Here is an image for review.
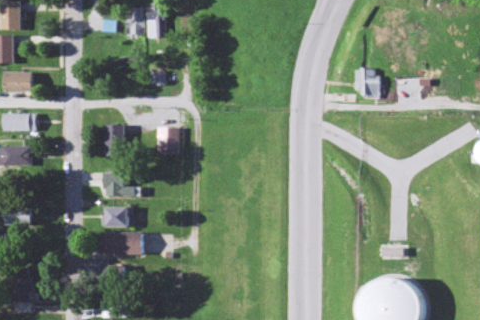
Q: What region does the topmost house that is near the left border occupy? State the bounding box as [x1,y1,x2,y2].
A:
[0,1,23,30]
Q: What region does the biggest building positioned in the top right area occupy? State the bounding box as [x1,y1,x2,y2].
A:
[355,68,382,99]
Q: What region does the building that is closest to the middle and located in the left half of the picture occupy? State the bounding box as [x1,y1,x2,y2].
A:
[156,127,182,156]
